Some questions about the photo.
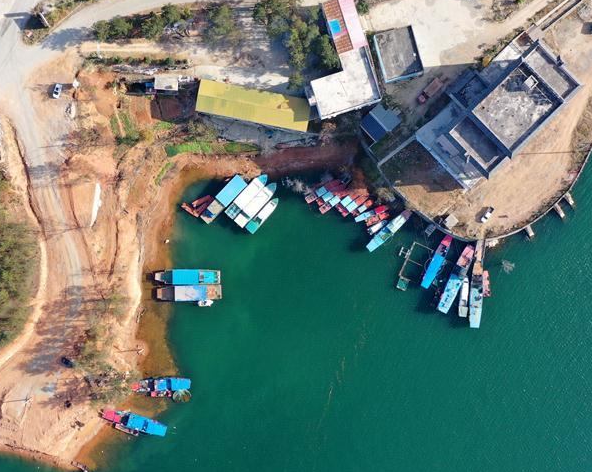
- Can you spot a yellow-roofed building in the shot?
Yes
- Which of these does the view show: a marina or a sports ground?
marina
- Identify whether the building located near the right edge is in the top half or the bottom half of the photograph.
top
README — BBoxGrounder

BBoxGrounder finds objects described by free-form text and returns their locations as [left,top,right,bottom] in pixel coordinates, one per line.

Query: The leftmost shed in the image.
[154,76,180,93]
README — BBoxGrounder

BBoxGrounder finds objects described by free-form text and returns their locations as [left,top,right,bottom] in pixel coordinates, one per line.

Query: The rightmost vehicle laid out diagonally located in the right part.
[480,206,495,224]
